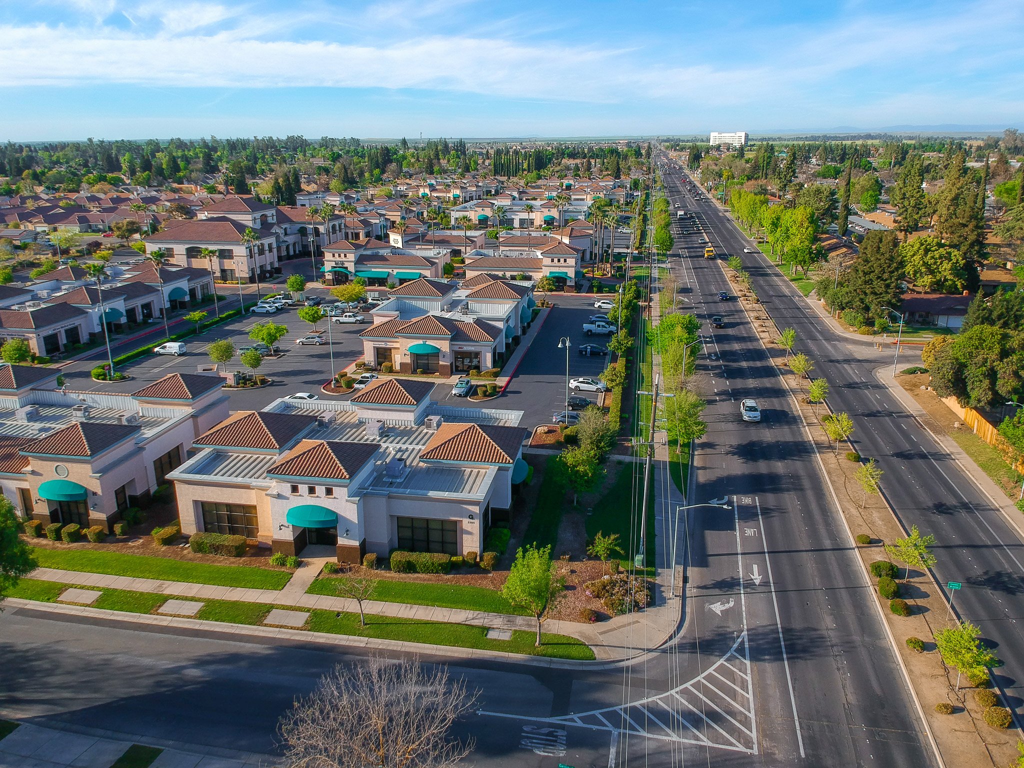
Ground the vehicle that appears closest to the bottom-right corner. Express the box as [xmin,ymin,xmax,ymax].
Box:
[739,398,763,421]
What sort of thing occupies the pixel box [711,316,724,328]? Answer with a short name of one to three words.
vehicle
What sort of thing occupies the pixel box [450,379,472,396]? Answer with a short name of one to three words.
car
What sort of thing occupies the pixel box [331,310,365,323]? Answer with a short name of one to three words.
vehicle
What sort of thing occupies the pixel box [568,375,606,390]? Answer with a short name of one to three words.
car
